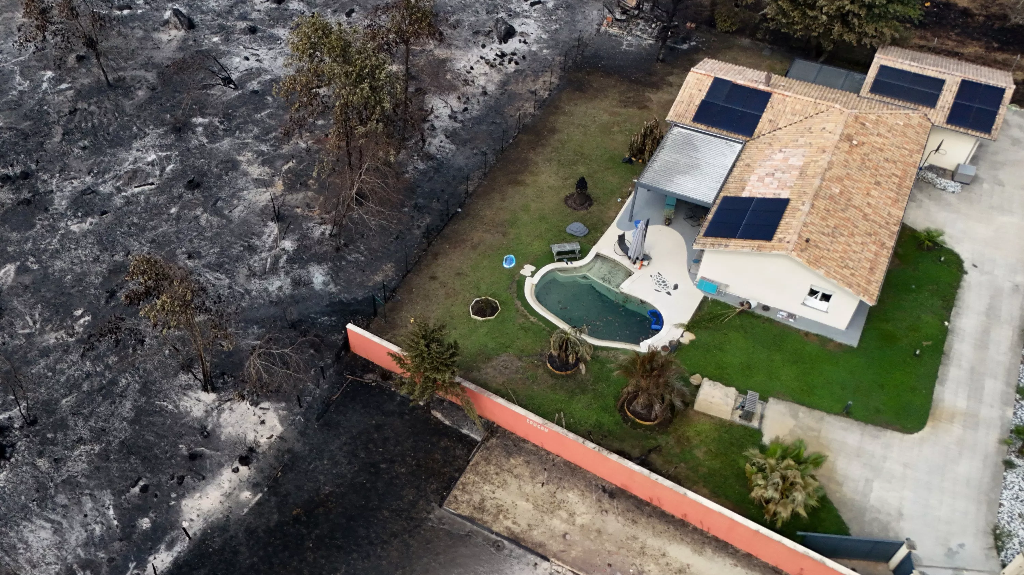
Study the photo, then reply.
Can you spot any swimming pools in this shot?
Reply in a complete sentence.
Yes, a swimming pool is visible in the scene.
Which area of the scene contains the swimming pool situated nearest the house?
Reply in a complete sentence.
You can find the swimming pool situated nearest the house in the center area of the picture.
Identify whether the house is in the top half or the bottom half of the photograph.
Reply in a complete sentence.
The top half of the photo is where the house is.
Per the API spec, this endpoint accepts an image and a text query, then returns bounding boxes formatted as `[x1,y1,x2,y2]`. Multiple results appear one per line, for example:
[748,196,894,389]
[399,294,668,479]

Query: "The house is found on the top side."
[666,43,1014,330]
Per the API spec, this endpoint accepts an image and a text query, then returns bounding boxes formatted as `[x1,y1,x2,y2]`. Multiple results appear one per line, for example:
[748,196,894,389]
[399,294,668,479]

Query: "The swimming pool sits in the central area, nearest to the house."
[524,245,665,353]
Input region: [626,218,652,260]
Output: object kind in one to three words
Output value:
umbrella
